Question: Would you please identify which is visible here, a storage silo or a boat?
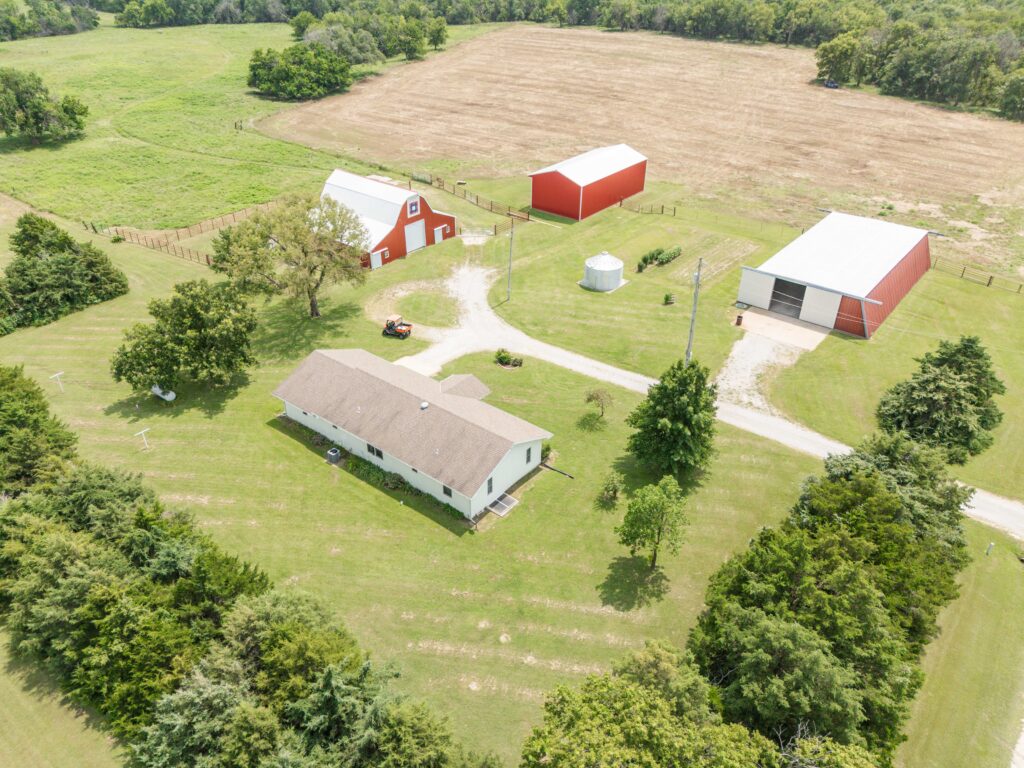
storage silo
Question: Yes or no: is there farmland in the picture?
Yes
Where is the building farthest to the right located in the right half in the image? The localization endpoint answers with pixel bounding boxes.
[736,208,943,338]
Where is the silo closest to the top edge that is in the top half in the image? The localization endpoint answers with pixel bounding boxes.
[576,251,631,294]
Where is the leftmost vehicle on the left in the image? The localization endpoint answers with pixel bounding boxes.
[381,312,412,339]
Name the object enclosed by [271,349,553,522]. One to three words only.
house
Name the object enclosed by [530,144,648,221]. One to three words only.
shed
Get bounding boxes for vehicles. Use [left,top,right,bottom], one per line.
[381,312,412,339]
[825,76,839,87]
